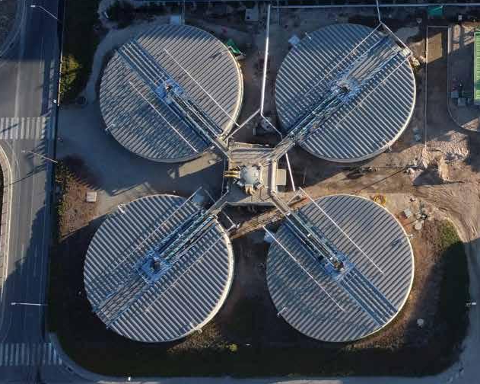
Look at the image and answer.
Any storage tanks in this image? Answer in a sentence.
Yes, you can see a storage tank in this photo.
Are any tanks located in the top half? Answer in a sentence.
Yes, the scene does show a tank in the top half.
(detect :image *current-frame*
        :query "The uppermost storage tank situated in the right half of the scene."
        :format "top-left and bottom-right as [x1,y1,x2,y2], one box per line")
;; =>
[273,24,418,167]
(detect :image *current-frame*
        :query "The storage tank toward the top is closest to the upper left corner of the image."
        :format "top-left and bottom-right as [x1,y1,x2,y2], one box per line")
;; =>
[99,25,247,167]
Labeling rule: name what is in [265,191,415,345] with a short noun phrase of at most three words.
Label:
storage tank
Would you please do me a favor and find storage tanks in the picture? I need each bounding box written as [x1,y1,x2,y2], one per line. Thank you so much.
[83,190,237,345]
[273,24,418,167]
[265,191,415,345]
[99,25,247,167]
